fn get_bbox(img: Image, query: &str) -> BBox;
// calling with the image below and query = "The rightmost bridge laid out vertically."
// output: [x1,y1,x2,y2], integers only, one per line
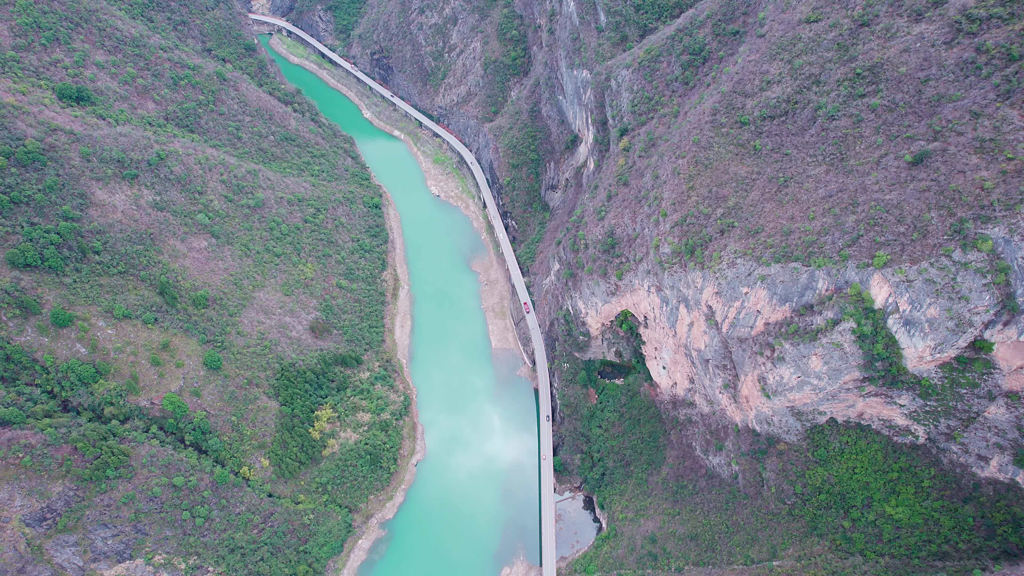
[479,184,557,576]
